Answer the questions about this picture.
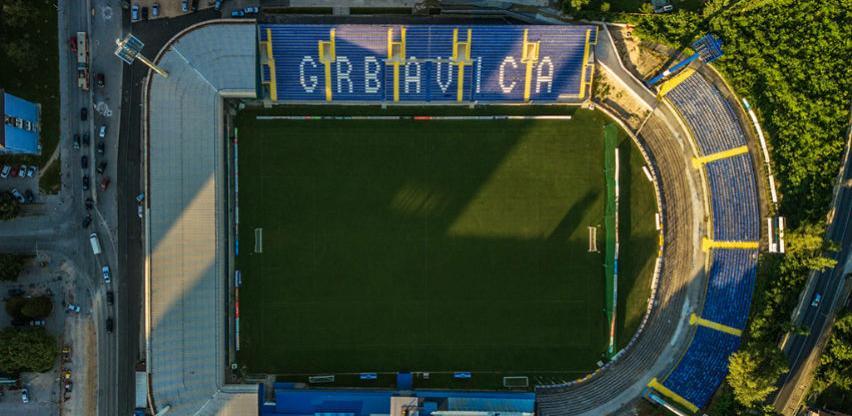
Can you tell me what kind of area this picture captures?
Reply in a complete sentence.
What you see here is a sports ground.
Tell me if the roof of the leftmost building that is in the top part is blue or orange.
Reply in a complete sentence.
From above, the roof of the leftmost building that is in the top part appears blue.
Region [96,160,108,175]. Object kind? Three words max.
vehicle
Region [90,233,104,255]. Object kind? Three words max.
vehicle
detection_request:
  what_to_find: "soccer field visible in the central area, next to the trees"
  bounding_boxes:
[238,101,662,391]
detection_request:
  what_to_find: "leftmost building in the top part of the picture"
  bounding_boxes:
[0,88,42,155]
